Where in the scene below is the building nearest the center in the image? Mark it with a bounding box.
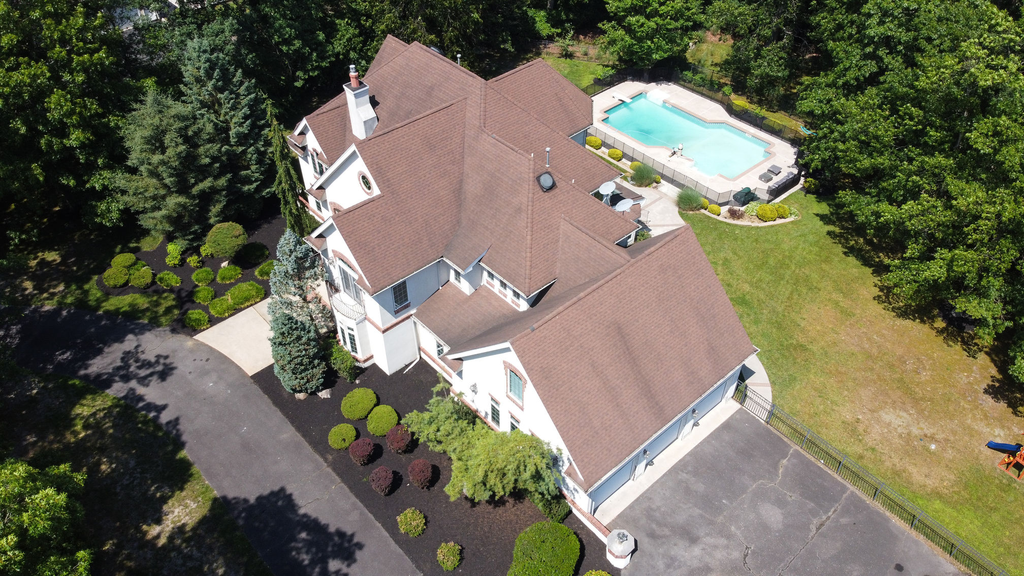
[287,33,758,519]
